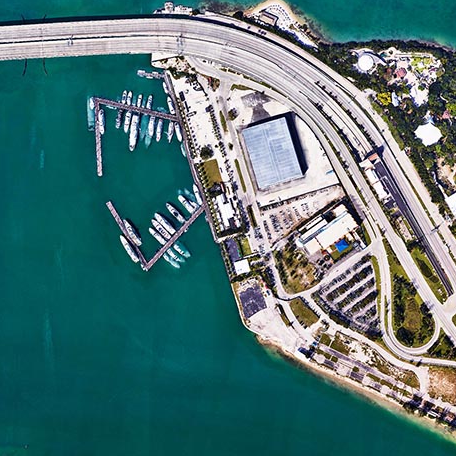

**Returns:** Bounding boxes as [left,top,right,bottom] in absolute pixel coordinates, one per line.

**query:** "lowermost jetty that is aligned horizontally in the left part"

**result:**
[94,98,177,122]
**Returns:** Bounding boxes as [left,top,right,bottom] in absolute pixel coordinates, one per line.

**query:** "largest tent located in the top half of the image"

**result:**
[415,122,442,146]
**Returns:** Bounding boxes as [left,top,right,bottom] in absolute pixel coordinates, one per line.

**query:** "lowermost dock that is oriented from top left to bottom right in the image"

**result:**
[105,201,147,267]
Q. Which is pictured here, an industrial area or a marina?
marina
